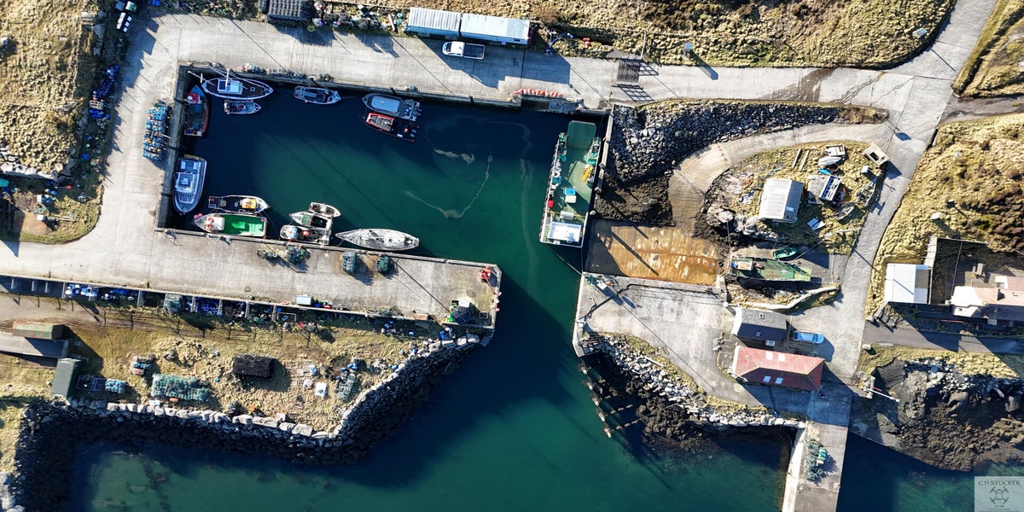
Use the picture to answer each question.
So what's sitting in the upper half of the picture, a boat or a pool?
boat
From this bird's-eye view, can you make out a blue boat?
Yes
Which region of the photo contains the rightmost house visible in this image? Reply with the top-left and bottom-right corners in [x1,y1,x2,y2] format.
[941,275,1024,324]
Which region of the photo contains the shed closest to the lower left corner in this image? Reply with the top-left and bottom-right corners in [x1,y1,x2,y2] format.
[51,358,86,398]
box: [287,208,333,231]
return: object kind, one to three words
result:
boat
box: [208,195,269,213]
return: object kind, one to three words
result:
boat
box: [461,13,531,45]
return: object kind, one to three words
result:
building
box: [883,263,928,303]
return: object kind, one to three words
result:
shed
